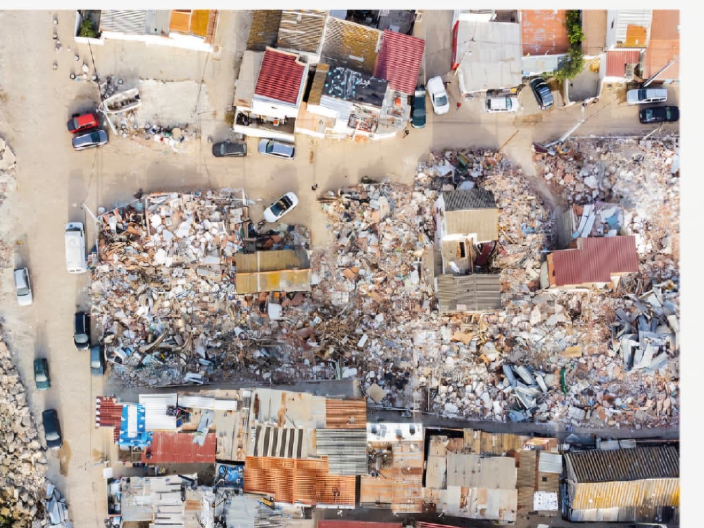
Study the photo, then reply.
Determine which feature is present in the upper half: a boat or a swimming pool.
boat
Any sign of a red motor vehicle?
Yes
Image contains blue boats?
No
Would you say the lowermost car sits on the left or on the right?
left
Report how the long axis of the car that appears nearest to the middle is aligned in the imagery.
diagonally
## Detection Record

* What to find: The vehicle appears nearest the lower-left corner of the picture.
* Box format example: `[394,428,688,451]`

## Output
[42,408,63,448]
